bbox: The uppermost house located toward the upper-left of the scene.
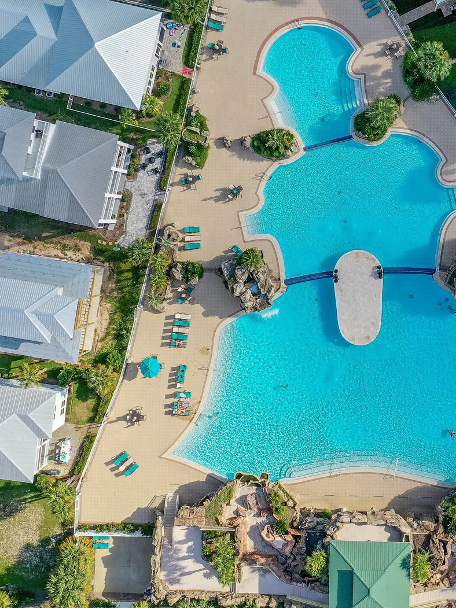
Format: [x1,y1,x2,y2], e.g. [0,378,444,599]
[0,0,165,111]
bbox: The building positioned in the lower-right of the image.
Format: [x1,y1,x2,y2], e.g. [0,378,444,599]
[328,540,411,608]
